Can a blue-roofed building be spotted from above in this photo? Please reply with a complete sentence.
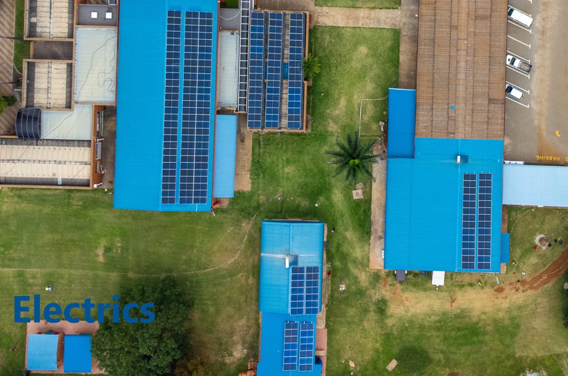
Yes, a blue-roofed building can be made out from above.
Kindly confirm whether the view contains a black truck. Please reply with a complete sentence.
No, the picture doesn't show any black truck.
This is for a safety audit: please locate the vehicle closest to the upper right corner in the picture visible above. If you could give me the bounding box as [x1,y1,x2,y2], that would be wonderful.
[509,7,536,30]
